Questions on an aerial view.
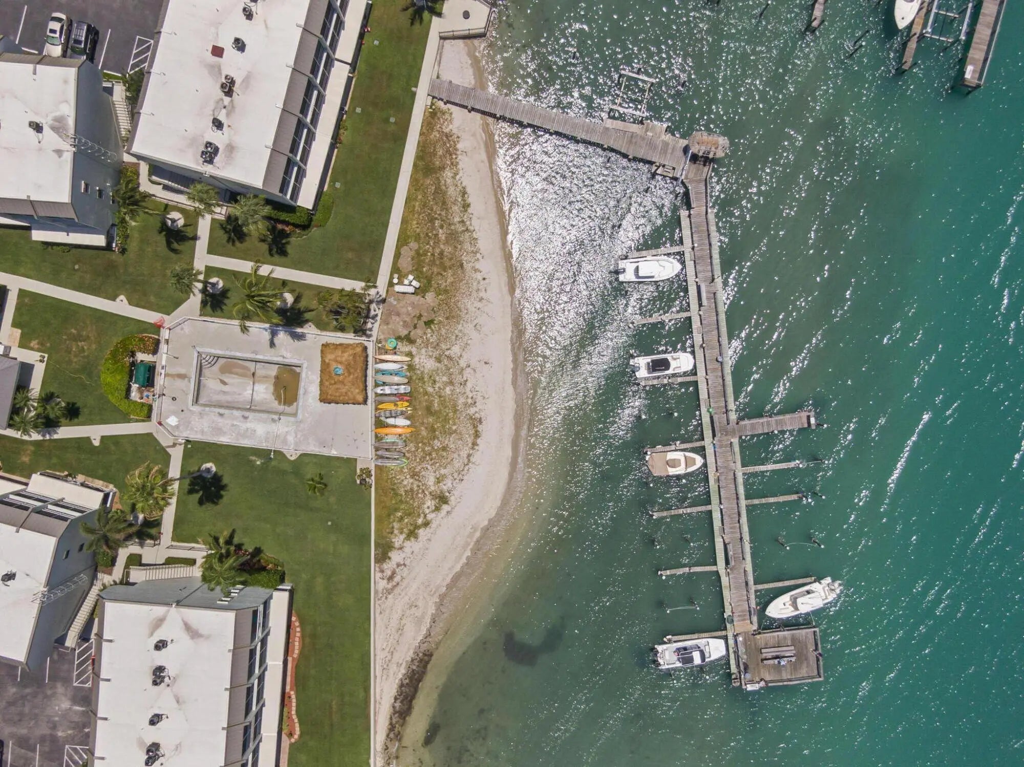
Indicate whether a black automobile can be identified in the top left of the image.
Yes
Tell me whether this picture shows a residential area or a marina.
marina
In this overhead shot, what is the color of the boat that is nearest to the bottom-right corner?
white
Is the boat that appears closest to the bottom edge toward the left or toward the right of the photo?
right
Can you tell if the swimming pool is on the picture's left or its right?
left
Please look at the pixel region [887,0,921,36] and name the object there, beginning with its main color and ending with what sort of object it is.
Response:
white boat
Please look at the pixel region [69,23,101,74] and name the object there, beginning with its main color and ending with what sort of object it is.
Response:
black car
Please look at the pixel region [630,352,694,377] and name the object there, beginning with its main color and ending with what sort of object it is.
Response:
white boat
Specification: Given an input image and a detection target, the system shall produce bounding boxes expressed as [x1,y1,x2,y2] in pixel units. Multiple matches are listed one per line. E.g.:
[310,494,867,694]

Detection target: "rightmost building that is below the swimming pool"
[88,560,294,767]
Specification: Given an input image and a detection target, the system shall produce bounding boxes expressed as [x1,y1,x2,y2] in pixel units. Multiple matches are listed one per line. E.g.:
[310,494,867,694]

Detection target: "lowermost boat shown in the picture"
[649,637,726,668]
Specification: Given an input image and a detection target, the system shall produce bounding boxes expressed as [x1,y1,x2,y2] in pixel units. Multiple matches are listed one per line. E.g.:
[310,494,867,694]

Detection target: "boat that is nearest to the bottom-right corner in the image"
[763,576,845,614]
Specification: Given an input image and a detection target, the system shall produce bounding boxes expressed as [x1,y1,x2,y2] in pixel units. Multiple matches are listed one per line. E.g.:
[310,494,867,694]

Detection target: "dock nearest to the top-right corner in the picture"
[955,0,1006,91]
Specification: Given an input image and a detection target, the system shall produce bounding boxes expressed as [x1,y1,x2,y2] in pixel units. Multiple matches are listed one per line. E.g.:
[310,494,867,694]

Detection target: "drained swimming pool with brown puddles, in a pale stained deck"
[158,318,372,459]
